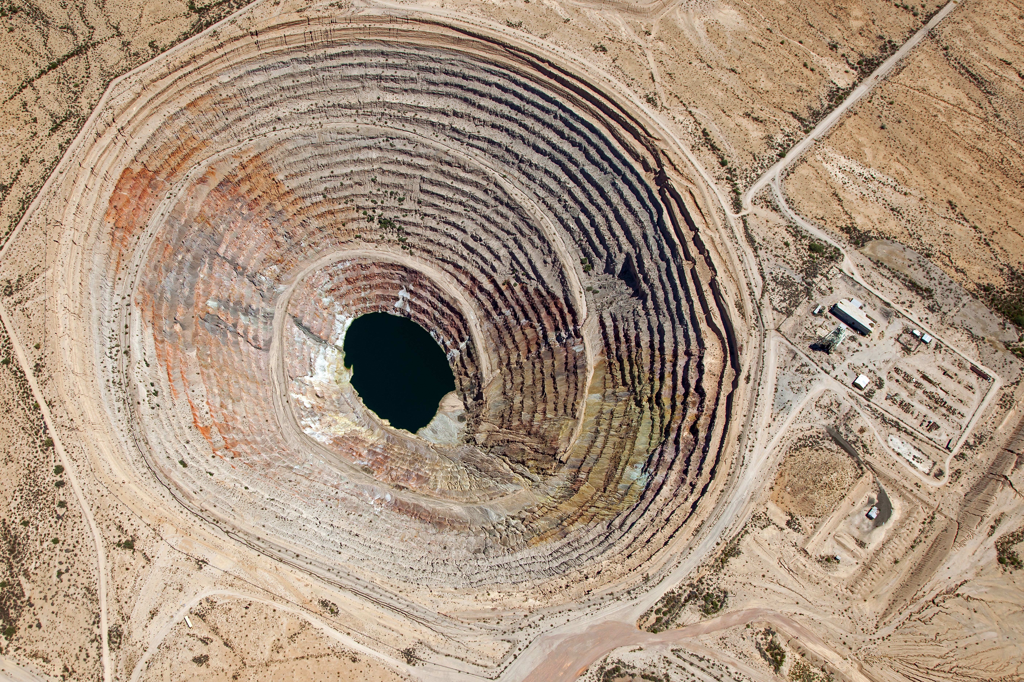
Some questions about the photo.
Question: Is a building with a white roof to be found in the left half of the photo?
No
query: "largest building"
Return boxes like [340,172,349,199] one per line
[835,299,876,334]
